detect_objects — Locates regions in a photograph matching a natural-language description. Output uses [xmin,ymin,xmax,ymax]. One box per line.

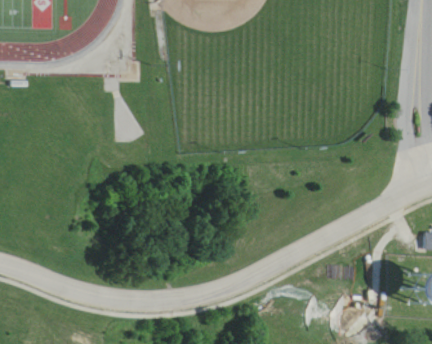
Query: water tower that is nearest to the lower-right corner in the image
[399,274,432,310]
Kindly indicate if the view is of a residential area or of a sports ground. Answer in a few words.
sports ground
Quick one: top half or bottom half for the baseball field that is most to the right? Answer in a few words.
top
